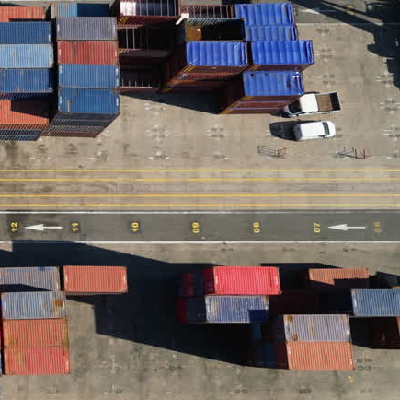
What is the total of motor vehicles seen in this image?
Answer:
2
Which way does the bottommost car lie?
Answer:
from side to side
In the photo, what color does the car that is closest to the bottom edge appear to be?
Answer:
white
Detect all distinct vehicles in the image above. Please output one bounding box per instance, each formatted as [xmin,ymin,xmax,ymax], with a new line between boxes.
[283,92,341,118]
[293,121,333,141]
